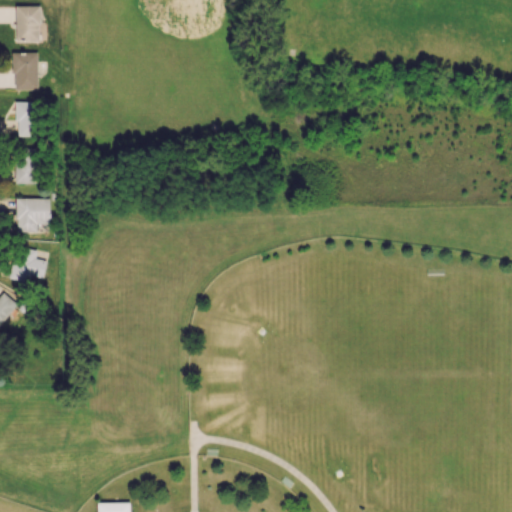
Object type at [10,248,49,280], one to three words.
house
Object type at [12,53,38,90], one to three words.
house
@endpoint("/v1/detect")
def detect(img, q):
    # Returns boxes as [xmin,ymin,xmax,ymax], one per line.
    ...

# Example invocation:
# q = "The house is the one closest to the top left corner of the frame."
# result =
[16,6,44,43]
